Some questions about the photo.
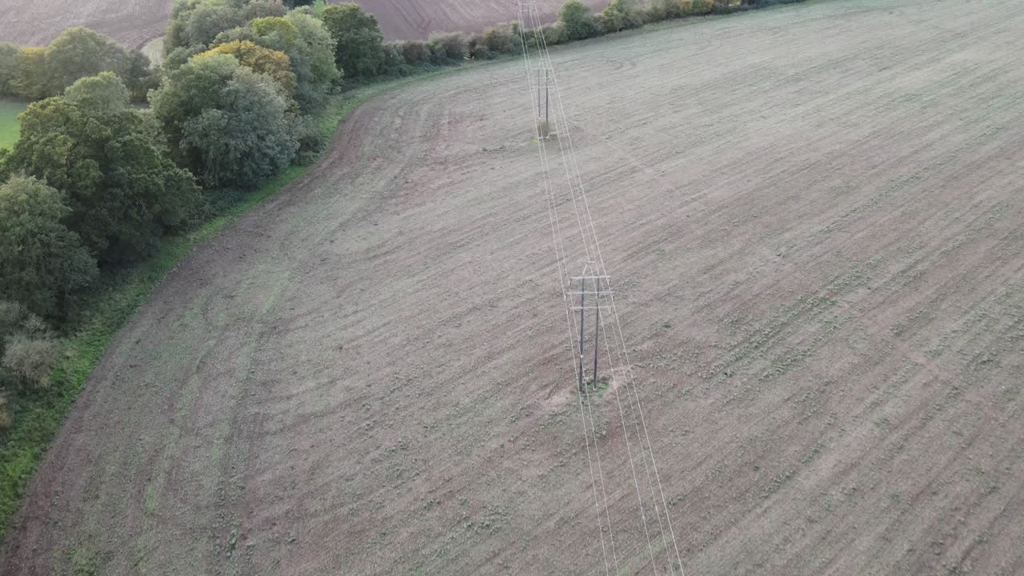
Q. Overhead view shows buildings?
No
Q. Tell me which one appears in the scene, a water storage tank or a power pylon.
power pylon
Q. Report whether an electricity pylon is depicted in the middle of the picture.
Yes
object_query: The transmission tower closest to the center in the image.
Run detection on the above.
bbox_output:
[566,261,615,391]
